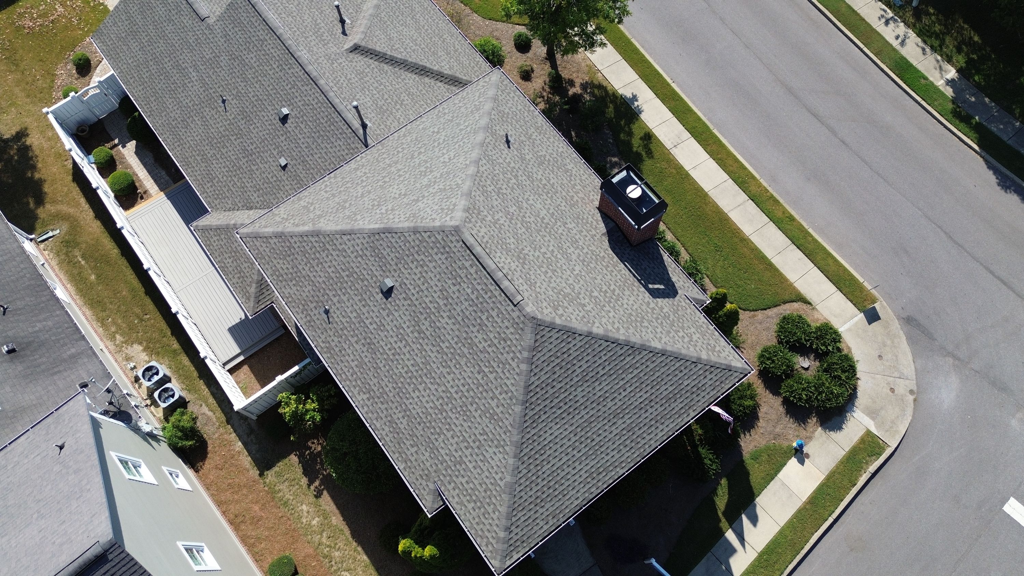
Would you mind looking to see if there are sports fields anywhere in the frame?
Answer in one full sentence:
No, there isn't any sports field down there.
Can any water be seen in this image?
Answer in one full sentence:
No, water can't be seen anywhere here.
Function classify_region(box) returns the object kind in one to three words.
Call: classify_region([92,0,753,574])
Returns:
house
